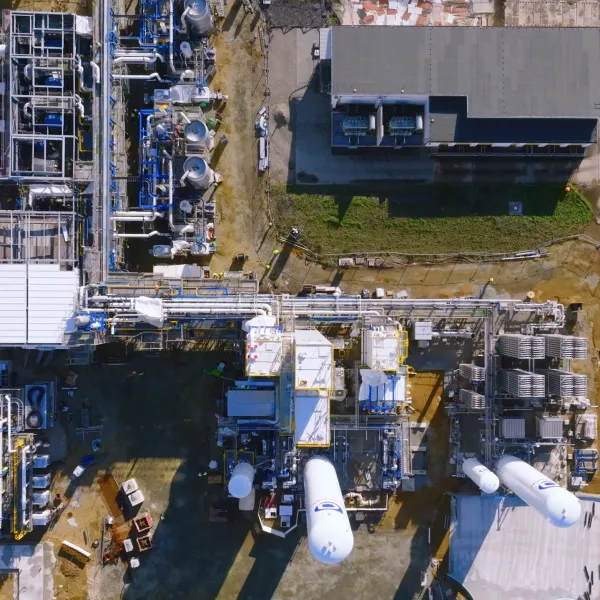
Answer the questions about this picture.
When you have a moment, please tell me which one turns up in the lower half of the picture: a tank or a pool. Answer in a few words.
tank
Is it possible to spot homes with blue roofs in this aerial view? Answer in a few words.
Yes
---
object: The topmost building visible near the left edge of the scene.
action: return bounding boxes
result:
[0,264,100,350]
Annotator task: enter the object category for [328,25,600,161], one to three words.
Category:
warehouse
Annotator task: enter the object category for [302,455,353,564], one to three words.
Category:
storage tank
